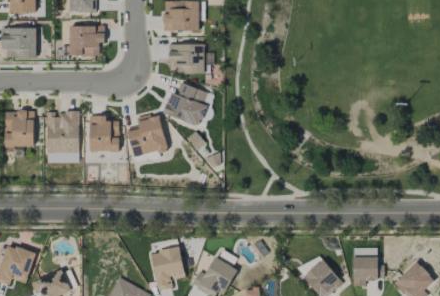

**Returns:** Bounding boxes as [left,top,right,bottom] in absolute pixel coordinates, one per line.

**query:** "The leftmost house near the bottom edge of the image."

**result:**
[0,246,37,284]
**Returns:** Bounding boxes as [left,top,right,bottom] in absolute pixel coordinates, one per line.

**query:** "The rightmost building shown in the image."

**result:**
[396,262,437,296]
